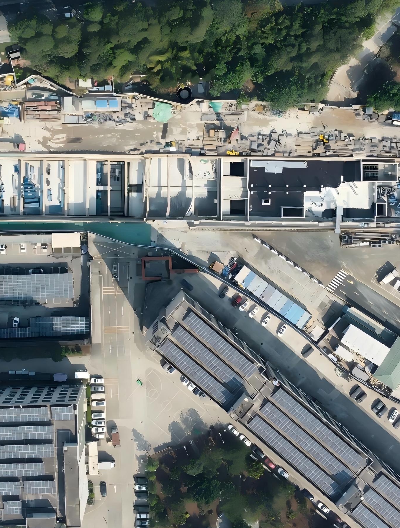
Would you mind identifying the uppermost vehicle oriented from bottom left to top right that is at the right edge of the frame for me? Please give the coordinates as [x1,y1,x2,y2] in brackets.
[377,268,398,285]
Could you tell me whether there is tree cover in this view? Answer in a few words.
Yes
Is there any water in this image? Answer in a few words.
No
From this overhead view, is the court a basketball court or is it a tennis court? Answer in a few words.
basketball court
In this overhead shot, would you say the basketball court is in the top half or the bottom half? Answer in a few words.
bottom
